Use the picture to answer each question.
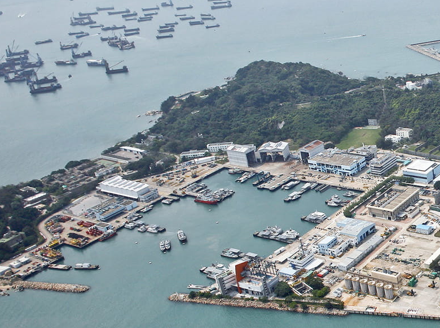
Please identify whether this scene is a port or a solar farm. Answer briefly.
port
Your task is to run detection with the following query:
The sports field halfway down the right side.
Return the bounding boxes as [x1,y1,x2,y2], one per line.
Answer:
[337,127,379,150]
